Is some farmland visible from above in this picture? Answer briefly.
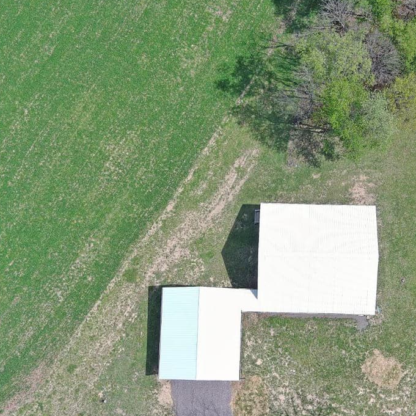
Yes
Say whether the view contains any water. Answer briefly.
No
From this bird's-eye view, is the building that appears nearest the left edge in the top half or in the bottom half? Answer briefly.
bottom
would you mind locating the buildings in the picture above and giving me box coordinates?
[157,287,243,382]
[258,203,379,317]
